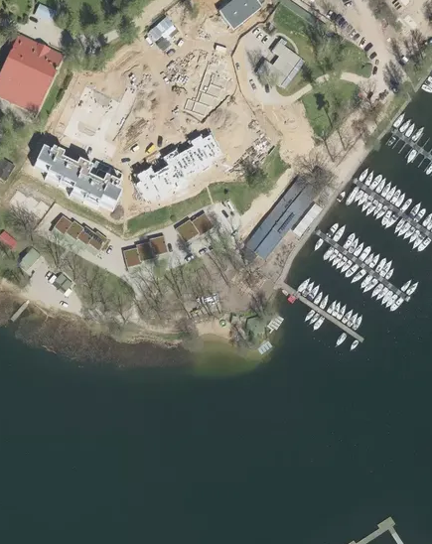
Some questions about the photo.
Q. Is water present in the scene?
Yes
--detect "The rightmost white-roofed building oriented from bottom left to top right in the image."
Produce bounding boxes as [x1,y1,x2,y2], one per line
[295,205,321,238]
